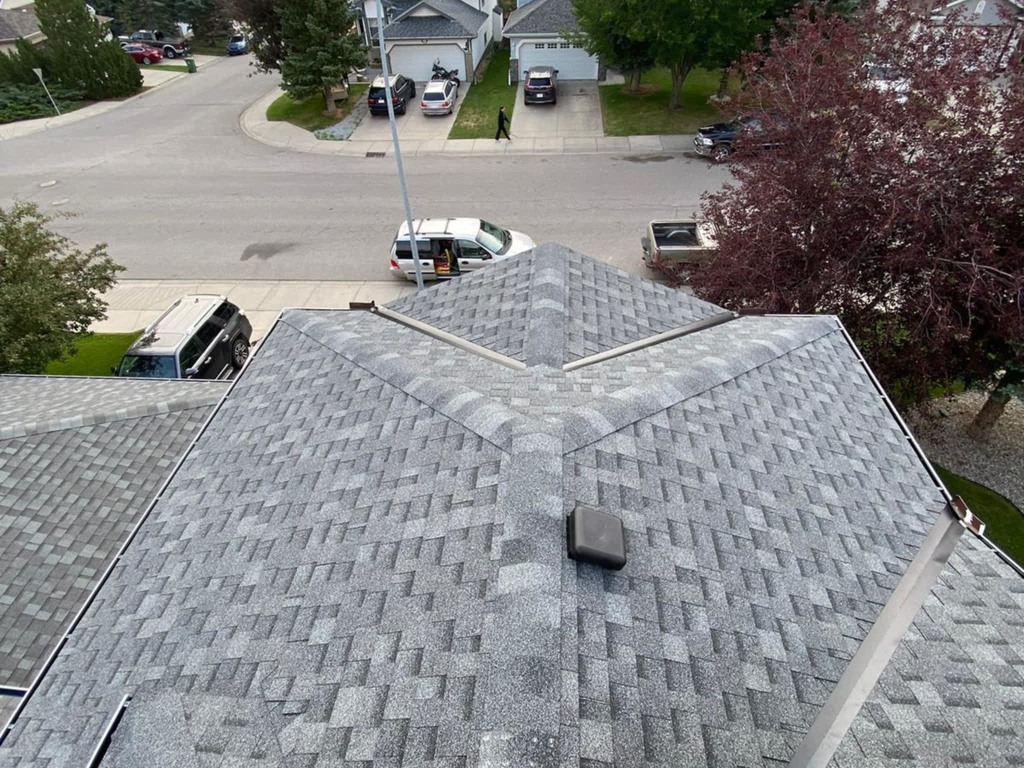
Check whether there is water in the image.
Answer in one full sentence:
No, no water is visible.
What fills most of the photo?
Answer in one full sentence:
What you mostly see from above here is buildings.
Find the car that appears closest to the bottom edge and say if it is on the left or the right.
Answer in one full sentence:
You can find the car that appears closest to the bottom edge on the left side of the picture.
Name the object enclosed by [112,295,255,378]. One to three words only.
car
